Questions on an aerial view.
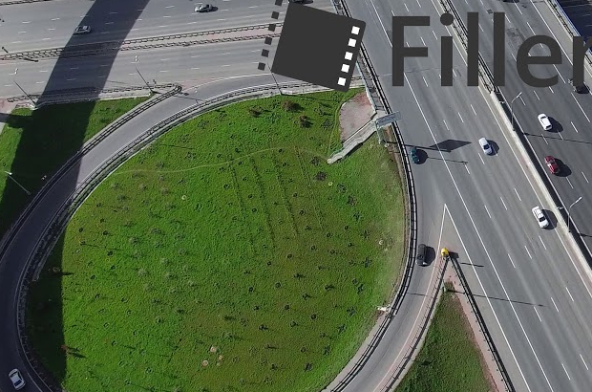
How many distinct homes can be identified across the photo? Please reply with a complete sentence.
No homes are visible.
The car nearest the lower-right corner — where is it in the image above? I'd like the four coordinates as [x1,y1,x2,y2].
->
[531,206,549,229]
